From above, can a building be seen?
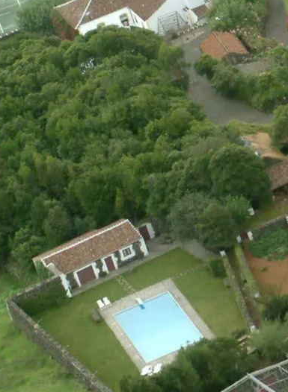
Yes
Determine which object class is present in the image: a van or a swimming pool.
swimming pool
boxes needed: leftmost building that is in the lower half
[33,216,146,292]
